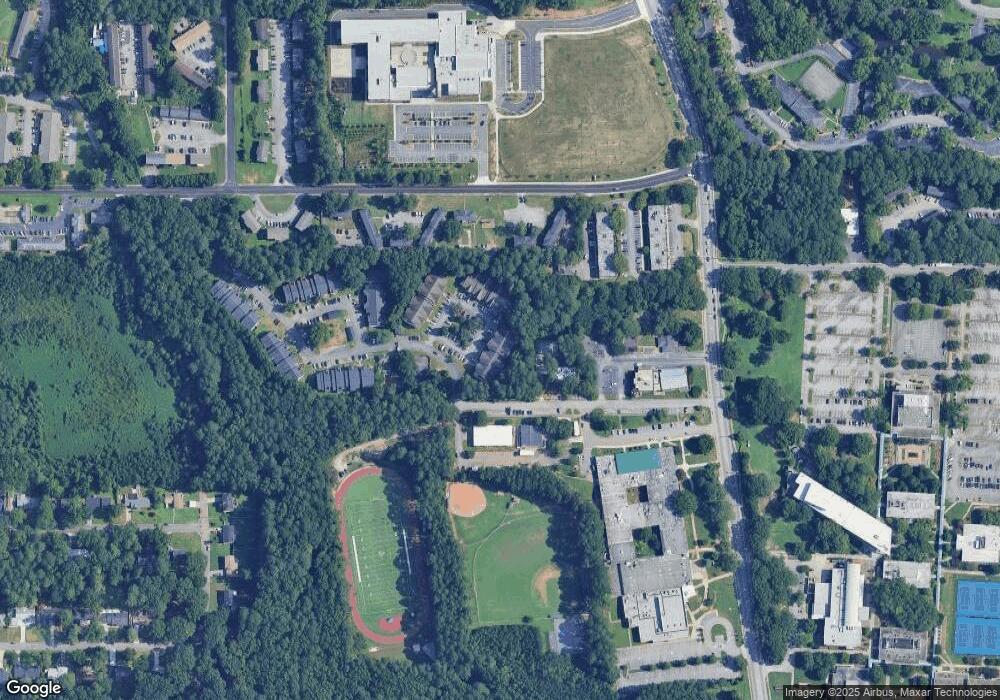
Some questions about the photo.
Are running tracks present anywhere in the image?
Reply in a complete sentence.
Yes, there is a running track in the image.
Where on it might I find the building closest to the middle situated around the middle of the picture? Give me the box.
[473,339,508,378]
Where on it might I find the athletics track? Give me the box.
[334,467,429,643]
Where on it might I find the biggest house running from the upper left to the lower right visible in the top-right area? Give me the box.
[771,73,829,130]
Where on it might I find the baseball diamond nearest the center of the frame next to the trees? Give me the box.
[448,482,486,517]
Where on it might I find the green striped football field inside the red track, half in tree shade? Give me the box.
[342,474,422,636]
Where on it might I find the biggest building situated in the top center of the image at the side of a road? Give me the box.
[341,10,493,100]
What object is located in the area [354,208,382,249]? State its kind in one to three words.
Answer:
house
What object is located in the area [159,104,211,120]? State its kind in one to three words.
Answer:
house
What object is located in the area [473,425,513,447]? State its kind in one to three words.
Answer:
building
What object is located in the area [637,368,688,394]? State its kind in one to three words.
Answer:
building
